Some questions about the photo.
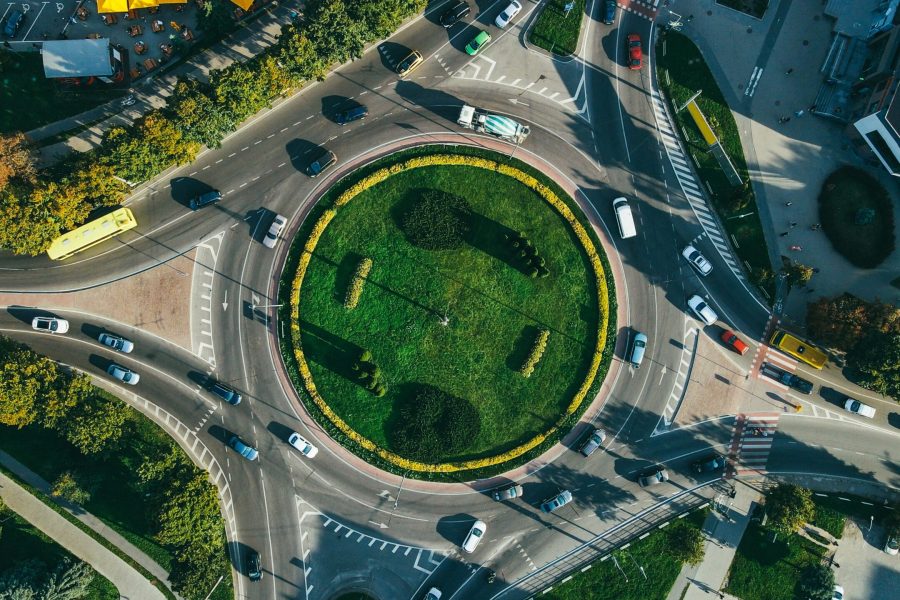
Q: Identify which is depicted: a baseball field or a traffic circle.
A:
traffic circle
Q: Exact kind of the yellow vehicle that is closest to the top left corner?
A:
bus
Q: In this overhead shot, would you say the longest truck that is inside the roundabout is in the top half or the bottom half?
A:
top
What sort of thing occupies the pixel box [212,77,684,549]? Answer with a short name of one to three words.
roundabout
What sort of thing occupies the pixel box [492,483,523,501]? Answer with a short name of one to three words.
car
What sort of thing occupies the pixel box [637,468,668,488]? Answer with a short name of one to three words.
car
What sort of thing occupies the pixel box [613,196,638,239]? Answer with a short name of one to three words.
vehicle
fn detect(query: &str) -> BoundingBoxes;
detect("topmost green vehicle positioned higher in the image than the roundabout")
[463,29,493,59]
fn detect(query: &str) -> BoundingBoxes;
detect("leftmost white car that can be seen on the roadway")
[29,316,69,335]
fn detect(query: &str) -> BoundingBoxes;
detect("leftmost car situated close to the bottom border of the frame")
[245,547,264,580]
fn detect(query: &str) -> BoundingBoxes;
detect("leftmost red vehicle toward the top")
[625,35,644,72]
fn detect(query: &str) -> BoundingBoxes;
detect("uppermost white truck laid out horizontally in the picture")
[454,101,529,142]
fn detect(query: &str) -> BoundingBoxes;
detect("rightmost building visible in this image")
[813,0,900,180]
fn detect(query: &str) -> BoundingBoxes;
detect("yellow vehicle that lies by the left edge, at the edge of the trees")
[44,206,143,265]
